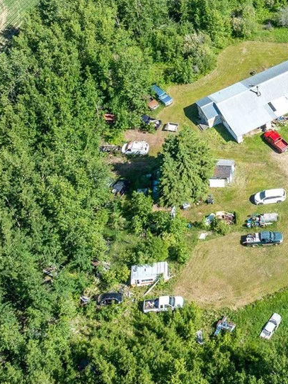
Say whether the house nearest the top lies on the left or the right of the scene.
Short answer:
right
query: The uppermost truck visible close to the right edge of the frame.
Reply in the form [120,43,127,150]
[259,129,288,155]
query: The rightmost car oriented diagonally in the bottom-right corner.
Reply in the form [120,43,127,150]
[254,306,285,337]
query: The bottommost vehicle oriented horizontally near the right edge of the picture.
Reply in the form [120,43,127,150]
[241,230,285,249]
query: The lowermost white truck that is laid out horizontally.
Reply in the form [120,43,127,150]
[142,292,187,313]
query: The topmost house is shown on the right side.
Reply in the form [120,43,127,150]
[196,60,288,146]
